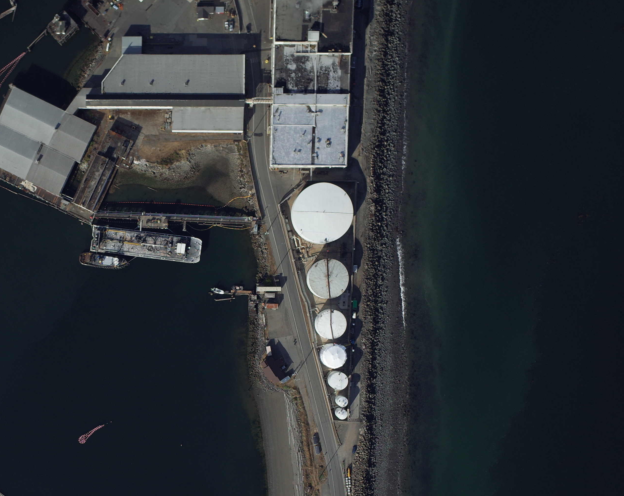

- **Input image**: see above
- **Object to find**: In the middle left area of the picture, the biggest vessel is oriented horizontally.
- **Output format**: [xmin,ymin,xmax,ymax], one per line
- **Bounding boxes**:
[91,225,202,264]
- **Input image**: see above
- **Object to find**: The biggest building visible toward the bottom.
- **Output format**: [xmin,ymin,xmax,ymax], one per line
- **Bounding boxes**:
[261,356,289,384]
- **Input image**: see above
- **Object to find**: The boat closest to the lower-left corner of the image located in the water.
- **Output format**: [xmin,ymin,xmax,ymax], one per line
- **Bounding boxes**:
[80,252,130,269]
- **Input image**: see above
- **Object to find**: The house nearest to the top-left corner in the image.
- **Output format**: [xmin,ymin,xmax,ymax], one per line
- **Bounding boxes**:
[47,11,79,46]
